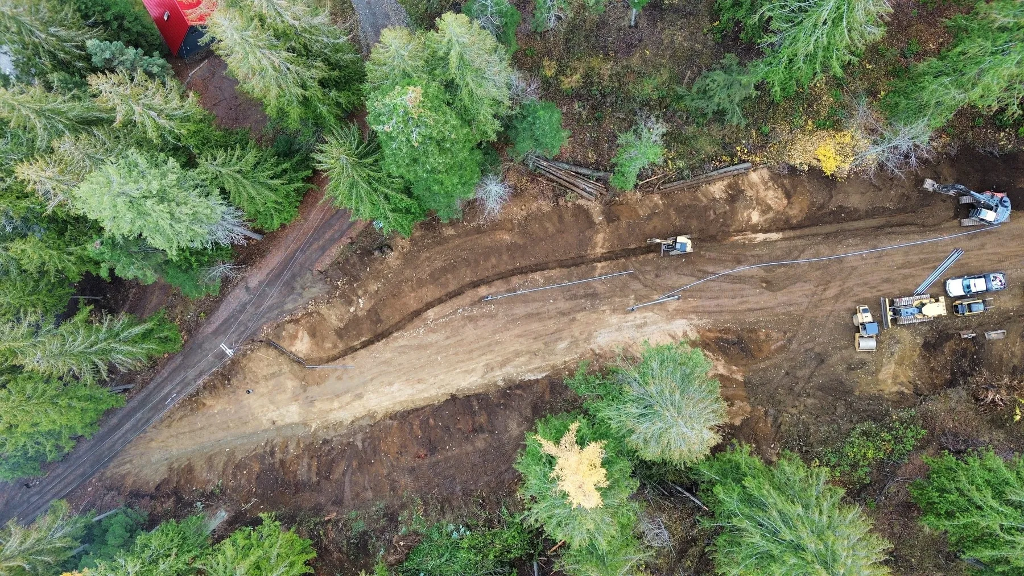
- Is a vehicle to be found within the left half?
No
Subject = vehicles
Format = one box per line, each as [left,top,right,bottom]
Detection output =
[945,273,1010,297]
[952,296,995,317]
[879,294,947,328]
[844,303,879,353]
[644,234,694,258]
[919,175,1015,227]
